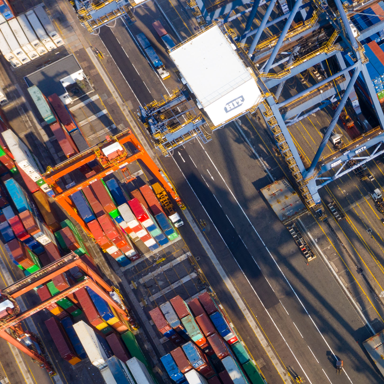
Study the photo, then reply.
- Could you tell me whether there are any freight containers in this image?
Yes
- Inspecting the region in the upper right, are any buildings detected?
No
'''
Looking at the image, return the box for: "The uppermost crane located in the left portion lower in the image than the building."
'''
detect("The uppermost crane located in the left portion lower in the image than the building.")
[36,124,183,248]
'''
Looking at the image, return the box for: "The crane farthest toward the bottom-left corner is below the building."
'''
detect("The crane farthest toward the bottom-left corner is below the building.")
[0,252,135,376]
